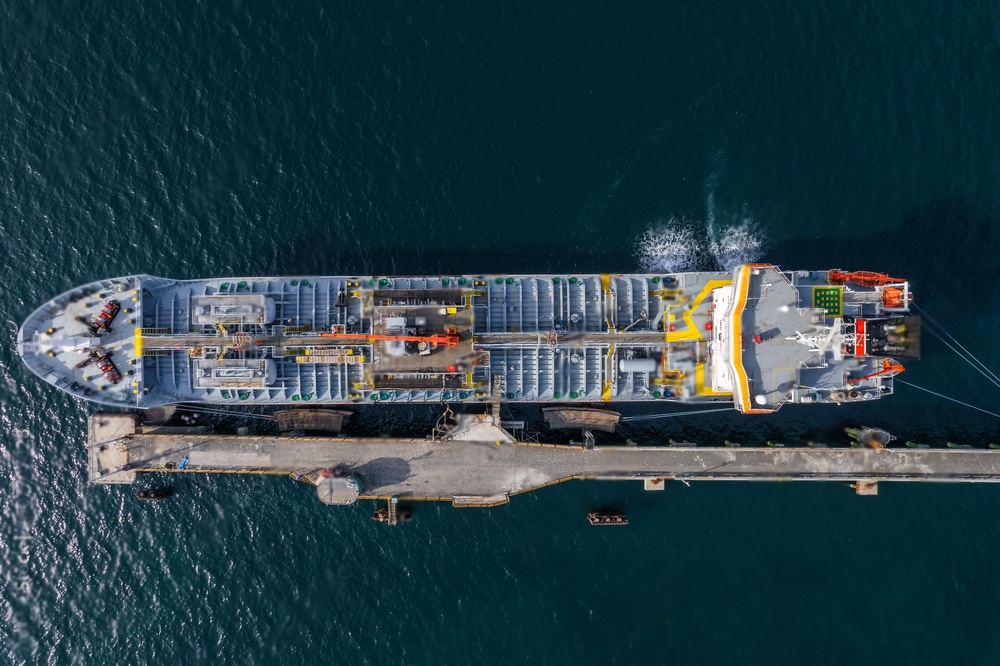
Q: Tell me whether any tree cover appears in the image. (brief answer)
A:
No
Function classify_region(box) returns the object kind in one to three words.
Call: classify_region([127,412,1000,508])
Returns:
pier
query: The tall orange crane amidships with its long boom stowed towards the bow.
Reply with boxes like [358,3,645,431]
[316,327,460,349]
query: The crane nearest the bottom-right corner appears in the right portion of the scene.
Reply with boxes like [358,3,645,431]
[843,358,901,384]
